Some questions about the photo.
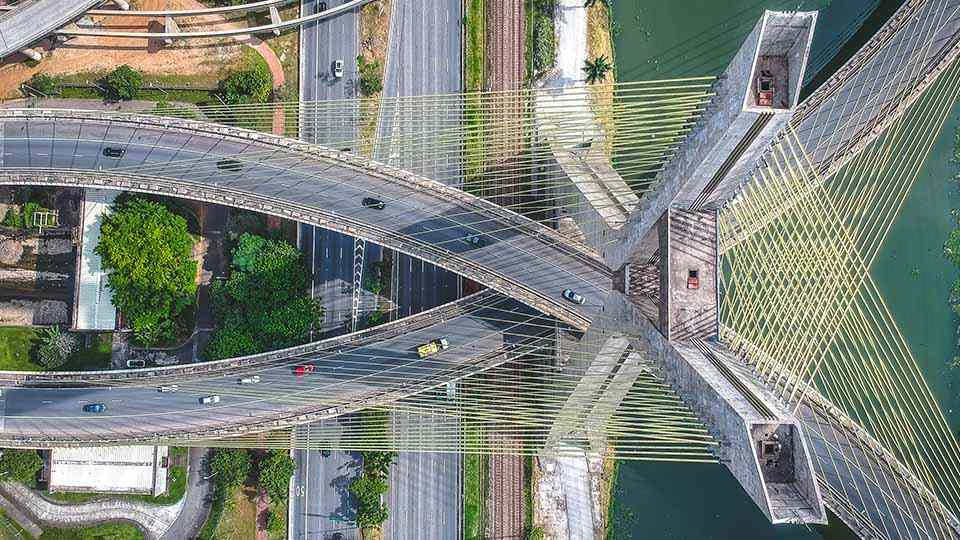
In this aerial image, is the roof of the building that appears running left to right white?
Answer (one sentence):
Yes, the roof of the building that appears running left to right appears white.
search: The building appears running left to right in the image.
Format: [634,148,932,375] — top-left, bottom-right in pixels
[47,445,166,497]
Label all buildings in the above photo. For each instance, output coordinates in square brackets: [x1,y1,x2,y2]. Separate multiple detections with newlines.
[47,445,166,497]
[71,188,128,330]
